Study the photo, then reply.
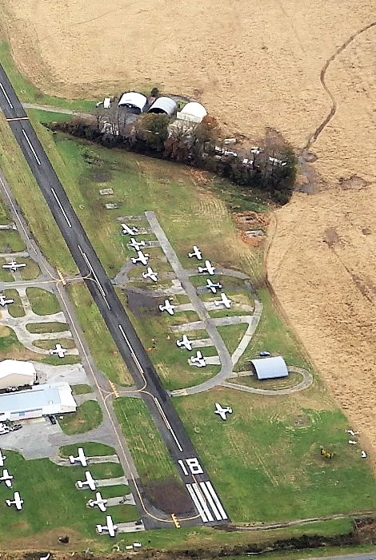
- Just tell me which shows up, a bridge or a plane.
plane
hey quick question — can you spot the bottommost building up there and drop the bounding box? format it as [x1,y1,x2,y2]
[0,383,78,422]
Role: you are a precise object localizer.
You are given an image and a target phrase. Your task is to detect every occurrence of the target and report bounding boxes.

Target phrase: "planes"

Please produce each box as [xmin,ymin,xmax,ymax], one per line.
[89,492,110,510]
[214,404,234,419]
[188,353,206,366]
[97,516,121,537]
[49,344,68,357]
[158,300,176,313]
[0,469,17,486]
[6,493,28,511]
[175,336,193,349]
[214,295,232,307]
[205,279,223,291]
[142,269,159,279]
[188,248,204,259]
[71,450,92,468]
[199,261,217,275]
[121,224,138,236]
[0,448,10,466]
[78,472,101,492]
[132,252,150,264]
[2,259,26,272]
[0,295,14,306]
[128,237,145,249]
